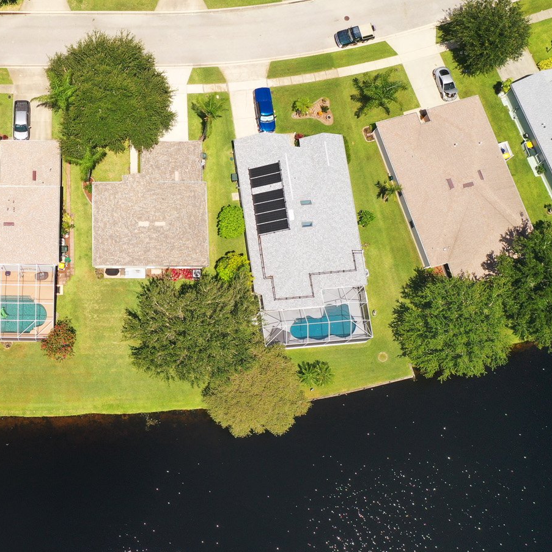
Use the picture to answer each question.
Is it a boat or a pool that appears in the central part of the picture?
pool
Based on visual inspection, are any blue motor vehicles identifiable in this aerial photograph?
Yes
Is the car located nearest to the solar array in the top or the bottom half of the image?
top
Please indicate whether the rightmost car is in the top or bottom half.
top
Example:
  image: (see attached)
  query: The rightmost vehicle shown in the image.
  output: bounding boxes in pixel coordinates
[436,62,461,99]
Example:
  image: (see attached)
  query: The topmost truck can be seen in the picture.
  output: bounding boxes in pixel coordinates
[335,18,379,44]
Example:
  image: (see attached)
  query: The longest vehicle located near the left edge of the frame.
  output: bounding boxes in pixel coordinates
[11,97,30,140]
